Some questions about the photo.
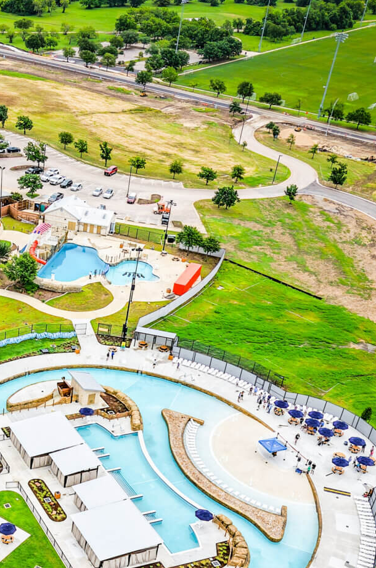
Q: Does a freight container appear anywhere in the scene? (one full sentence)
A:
Yes, the image includes a freight container.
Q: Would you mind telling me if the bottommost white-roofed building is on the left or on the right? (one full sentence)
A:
The bottommost white-roofed building appears in the left half of the scene.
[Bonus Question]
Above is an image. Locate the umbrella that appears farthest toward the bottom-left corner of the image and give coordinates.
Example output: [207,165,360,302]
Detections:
[0,523,15,537]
